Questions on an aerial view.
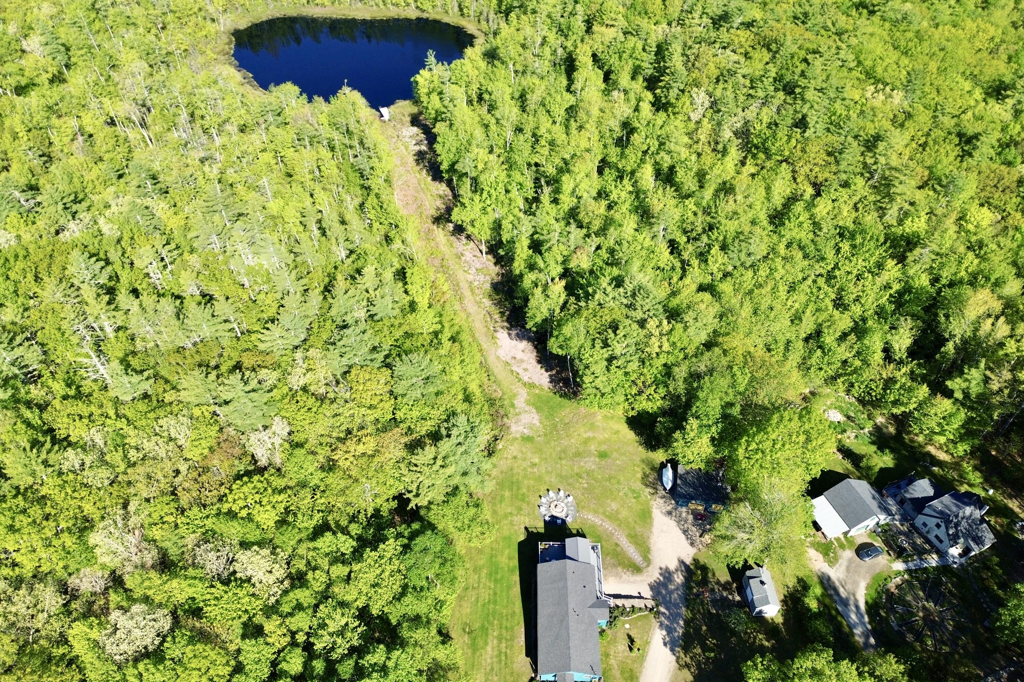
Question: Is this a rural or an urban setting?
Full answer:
This place is rural.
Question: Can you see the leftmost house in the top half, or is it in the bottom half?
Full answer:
The leftmost house sits in the bottom half of the picture.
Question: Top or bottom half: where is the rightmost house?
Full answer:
It is in the bottom half that the rightmost house appears.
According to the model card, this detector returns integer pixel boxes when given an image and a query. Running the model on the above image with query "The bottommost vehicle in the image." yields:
[858,544,886,562]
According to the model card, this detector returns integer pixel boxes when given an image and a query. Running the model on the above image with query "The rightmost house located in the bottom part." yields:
[882,471,998,570]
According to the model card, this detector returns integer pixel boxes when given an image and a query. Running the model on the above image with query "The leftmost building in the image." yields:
[537,537,614,682]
